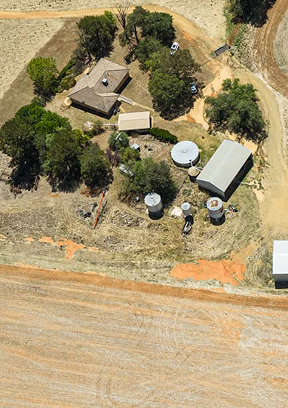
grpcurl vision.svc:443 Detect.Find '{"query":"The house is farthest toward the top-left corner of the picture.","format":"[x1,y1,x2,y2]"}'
[67,59,129,117]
